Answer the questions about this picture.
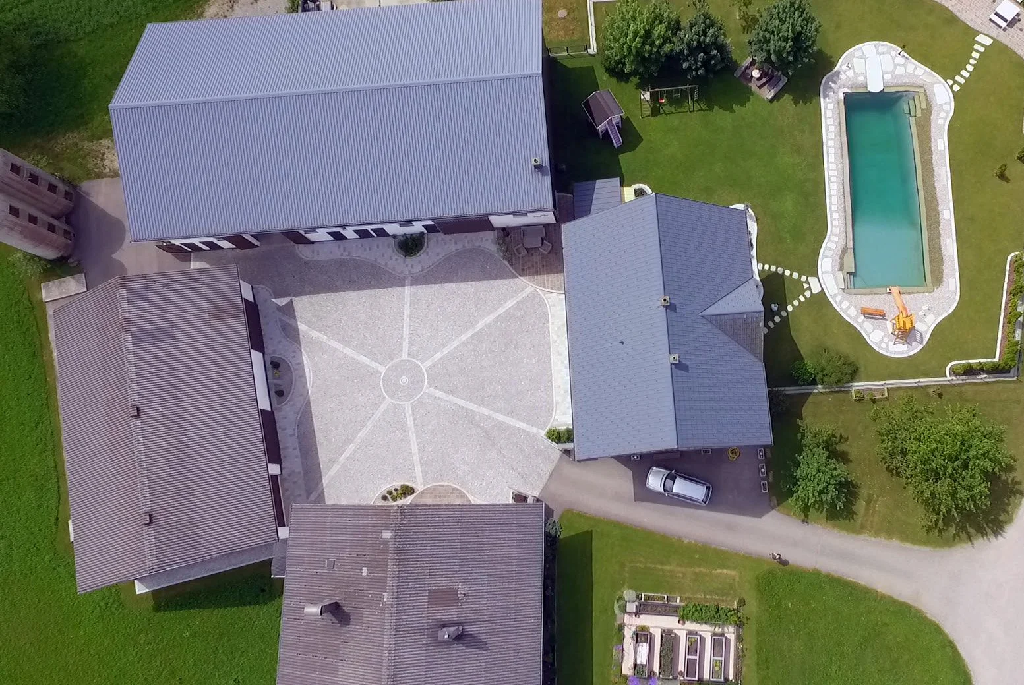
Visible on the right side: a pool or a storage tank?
pool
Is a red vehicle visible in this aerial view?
No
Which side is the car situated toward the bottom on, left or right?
right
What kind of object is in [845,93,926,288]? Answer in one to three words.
swimming pool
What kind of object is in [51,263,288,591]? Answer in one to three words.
barn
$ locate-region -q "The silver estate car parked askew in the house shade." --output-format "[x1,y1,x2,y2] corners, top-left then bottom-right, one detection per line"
[646,466,714,507]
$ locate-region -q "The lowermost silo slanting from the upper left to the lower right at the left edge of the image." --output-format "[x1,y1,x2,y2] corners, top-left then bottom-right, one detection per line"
[0,187,72,254]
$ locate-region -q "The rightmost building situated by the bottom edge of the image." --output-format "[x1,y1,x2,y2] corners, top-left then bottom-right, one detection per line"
[276,501,547,685]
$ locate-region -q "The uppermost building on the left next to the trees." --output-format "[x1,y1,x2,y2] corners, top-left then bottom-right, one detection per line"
[112,0,556,251]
